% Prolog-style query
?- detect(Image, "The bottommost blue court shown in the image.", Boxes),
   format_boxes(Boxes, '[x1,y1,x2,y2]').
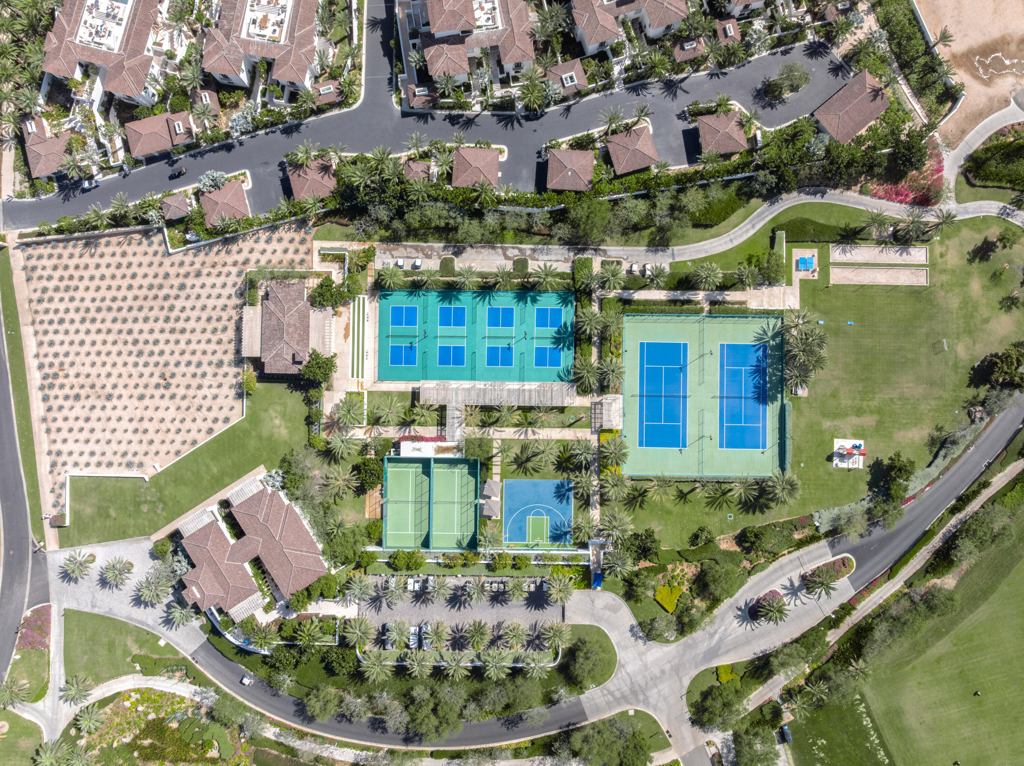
[503,479,574,549]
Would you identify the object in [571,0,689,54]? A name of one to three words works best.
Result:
house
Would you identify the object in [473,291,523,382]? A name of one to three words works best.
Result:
sports court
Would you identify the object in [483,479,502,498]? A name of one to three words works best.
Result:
umbrella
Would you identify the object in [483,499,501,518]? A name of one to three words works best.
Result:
umbrella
